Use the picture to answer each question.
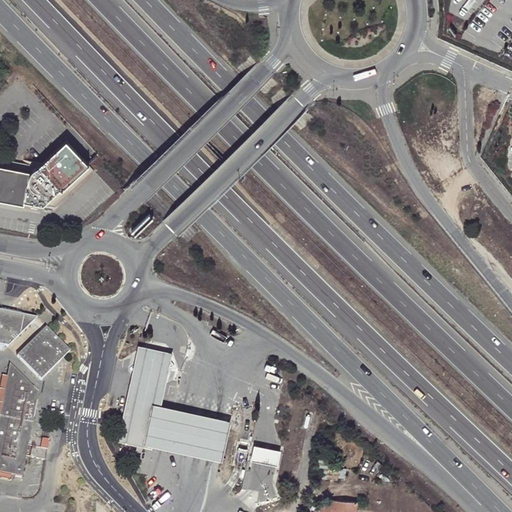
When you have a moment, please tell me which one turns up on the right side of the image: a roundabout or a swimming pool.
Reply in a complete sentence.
Visible on the right side of the image is a roundabout.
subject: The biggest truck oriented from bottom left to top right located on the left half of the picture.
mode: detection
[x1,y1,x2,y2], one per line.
[150,490,172,511]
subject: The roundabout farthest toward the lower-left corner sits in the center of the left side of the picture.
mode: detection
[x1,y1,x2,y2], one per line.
[56,230,148,322]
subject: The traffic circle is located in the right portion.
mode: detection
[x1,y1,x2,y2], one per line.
[278,0,428,89]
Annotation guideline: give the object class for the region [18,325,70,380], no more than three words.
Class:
building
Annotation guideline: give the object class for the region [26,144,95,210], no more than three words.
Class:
building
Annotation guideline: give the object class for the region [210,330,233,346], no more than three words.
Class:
vehicle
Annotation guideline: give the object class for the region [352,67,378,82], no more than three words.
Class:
vehicle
